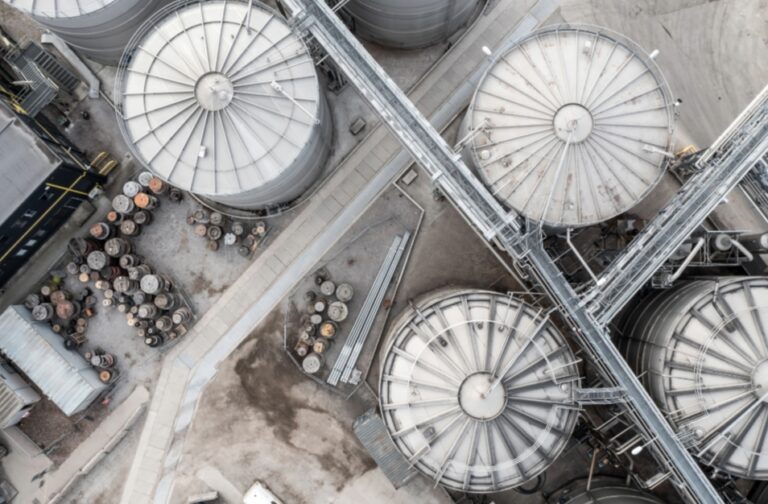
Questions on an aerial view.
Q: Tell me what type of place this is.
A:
industrial area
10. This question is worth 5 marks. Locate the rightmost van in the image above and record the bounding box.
[245,473,299,504]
